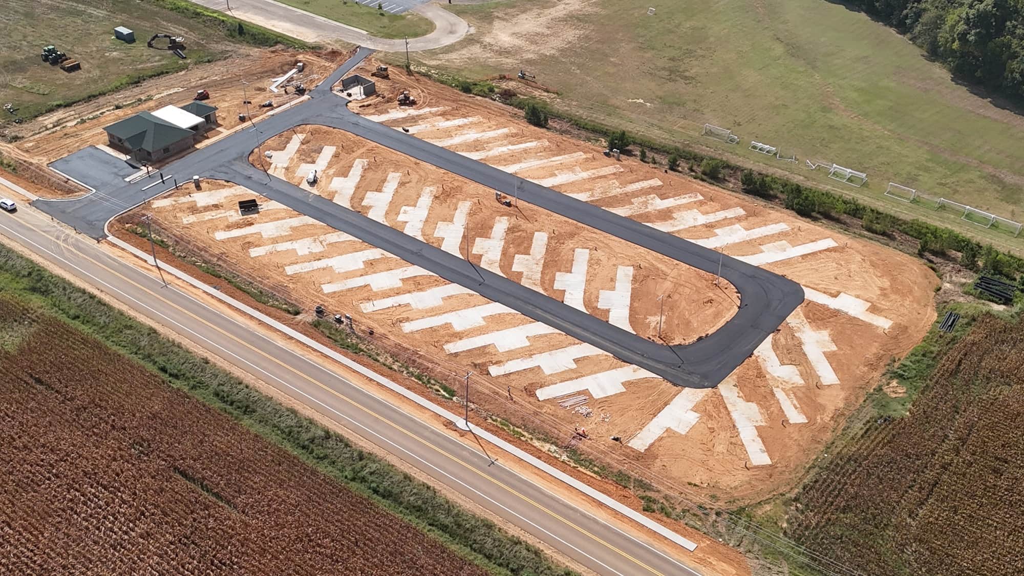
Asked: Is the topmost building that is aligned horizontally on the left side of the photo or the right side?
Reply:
left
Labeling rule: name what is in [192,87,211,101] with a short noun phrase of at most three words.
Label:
work vehicle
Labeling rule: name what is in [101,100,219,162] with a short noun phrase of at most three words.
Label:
building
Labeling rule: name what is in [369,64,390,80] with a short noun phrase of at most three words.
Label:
work vehicle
